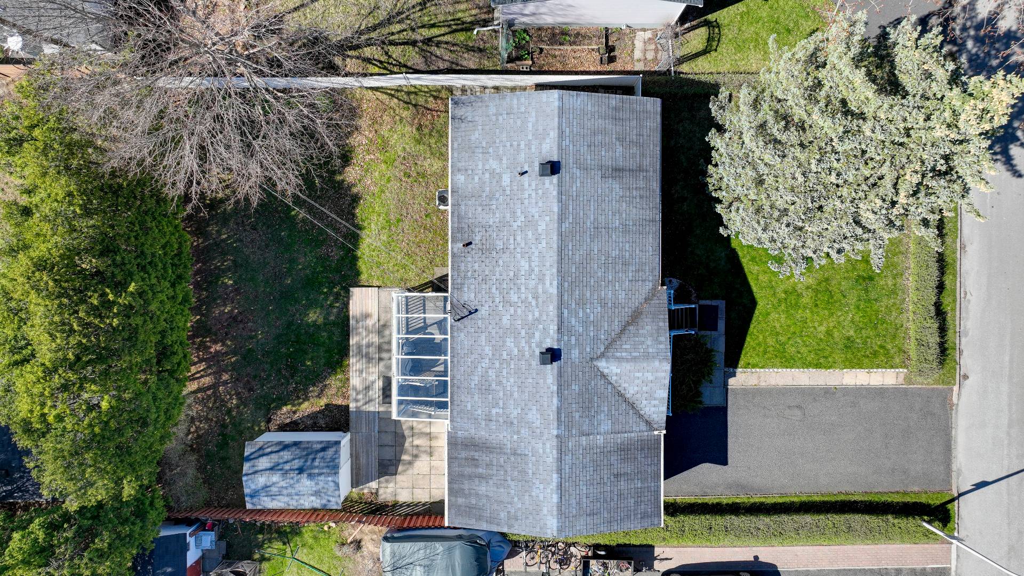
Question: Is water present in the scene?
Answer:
No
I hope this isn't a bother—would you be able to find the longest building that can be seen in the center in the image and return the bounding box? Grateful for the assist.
[443,89,671,538]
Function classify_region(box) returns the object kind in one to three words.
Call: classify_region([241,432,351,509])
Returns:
shed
